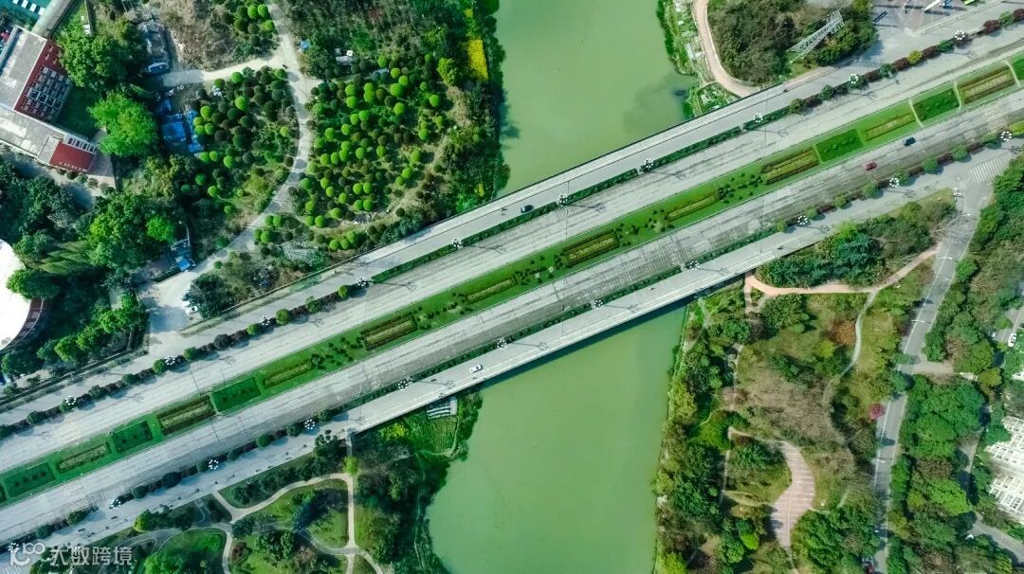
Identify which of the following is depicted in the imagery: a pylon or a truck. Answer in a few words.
pylon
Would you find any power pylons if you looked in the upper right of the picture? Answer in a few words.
Yes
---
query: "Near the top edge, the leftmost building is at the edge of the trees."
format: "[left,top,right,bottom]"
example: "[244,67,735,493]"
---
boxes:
[0,24,99,173]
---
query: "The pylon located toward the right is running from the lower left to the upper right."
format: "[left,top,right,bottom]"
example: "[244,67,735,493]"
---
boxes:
[788,9,845,62]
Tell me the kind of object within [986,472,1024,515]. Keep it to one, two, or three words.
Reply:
building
